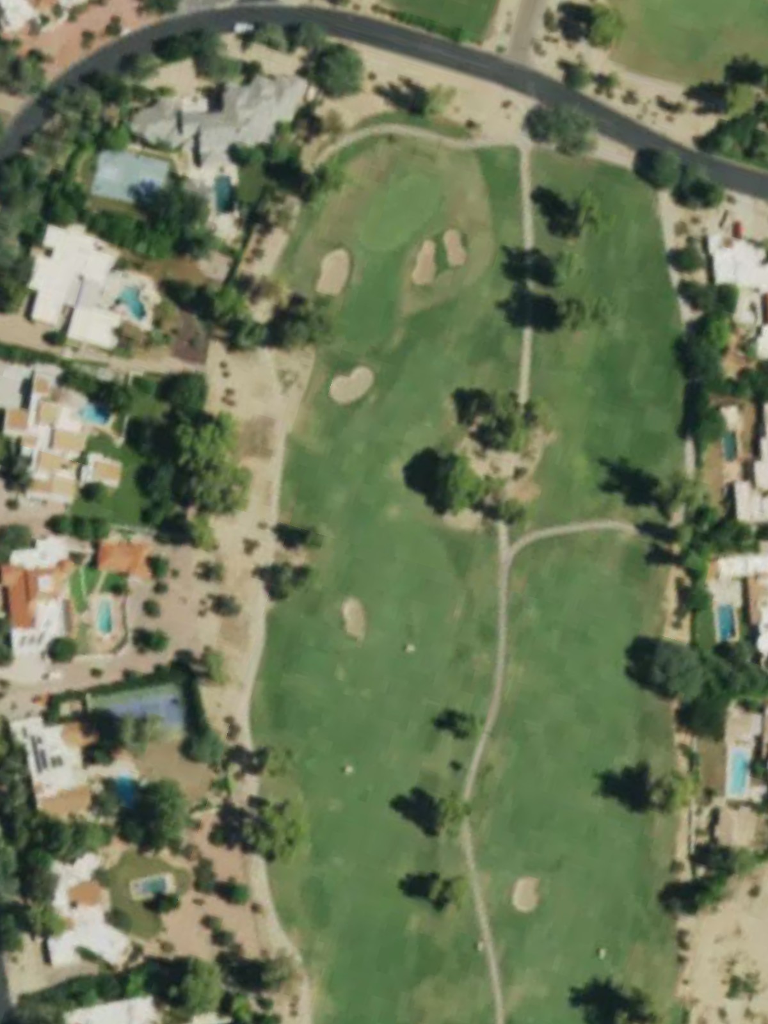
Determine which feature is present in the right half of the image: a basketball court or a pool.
pool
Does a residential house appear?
Yes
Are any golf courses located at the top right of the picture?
Yes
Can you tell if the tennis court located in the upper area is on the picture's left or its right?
left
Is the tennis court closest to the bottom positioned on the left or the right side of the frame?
left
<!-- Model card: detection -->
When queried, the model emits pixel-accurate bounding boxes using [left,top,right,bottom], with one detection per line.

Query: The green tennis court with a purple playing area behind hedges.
[86,682,184,748]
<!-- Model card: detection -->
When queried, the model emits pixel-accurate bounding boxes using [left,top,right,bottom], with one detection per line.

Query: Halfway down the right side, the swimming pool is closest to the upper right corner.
[720,428,738,463]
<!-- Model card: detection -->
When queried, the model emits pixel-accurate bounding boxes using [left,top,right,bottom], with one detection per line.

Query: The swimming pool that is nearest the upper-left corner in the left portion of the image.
[214,175,236,213]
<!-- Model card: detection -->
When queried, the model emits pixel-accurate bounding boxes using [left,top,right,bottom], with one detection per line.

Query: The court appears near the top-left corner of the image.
[92,150,170,202]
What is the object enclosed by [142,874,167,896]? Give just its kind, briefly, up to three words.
swimming pool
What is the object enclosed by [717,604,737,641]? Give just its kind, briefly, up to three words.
swimming pool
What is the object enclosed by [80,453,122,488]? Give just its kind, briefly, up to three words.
house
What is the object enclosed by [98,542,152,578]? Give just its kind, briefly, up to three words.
building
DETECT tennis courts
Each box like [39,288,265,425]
[86,682,184,748]
[92,150,170,202]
